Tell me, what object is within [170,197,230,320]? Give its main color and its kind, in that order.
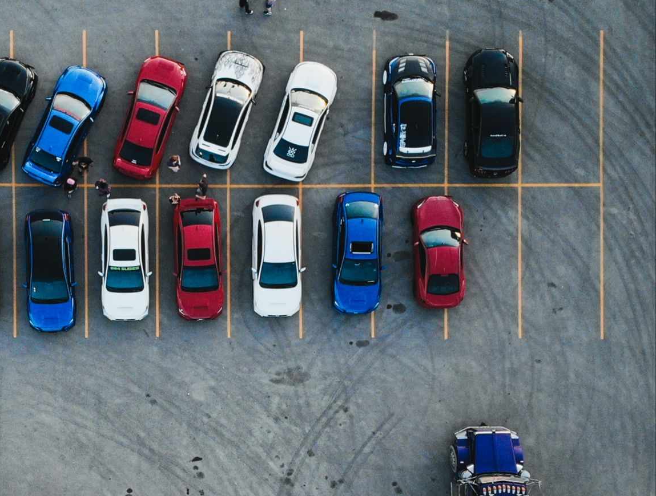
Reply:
red car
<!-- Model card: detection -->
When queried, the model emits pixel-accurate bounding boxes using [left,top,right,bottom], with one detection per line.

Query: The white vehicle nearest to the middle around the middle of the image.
[249,193,308,317]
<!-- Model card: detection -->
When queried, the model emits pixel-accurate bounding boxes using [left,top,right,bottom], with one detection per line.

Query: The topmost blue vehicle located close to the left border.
[21,65,105,186]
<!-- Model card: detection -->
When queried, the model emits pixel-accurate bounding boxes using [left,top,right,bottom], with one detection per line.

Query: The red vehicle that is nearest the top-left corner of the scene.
[109,56,185,180]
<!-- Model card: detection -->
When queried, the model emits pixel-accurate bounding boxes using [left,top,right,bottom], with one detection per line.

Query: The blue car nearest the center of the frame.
[331,189,390,314]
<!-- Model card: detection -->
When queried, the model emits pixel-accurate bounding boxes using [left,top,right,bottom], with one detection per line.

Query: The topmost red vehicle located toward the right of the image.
[411,195,472,309]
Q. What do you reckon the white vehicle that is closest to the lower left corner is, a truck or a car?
car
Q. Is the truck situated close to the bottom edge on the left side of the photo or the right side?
right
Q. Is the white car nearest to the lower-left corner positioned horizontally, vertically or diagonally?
vertically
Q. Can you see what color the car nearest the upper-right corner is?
black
